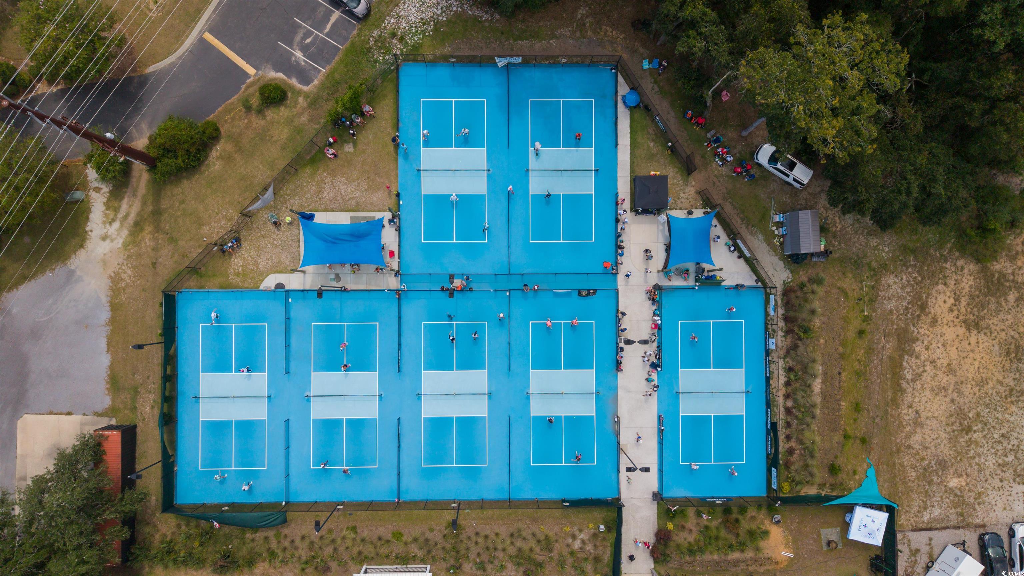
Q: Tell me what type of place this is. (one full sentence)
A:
The picture captures a sports ground.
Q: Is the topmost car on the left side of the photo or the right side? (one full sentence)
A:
It is on the left.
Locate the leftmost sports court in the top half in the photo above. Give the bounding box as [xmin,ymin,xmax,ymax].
[399,65,509,273]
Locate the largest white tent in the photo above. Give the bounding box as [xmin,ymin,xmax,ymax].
[837,504,889,546]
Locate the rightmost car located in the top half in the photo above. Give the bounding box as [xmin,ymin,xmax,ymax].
[754,143,813,188]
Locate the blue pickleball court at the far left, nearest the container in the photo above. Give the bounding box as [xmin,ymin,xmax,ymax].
[175,291,288,503]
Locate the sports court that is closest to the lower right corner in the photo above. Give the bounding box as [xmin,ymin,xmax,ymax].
[658,286,766,497]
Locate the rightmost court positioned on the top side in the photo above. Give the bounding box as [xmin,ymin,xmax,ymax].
[509,66,618,273]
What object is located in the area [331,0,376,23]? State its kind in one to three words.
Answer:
car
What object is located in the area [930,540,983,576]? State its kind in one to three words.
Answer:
trailer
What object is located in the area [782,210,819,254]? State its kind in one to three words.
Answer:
shed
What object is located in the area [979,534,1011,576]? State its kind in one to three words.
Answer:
car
